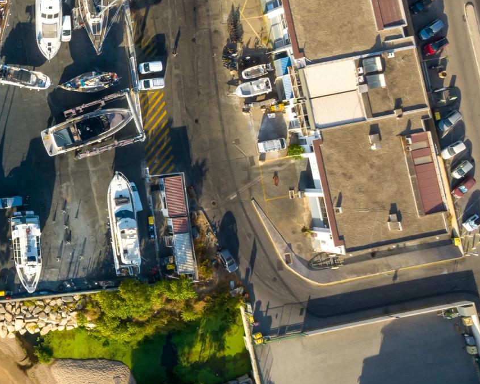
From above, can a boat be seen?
Yes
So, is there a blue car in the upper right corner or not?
Yes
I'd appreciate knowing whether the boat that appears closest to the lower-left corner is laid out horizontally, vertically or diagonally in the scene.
vertically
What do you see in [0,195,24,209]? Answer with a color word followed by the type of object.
blue vehicle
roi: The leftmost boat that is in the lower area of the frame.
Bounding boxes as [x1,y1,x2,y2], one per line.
[11,211,44,295]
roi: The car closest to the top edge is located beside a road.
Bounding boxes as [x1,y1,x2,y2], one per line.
[408,0,433,15]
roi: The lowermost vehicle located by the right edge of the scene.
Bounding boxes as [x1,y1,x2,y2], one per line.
[461,214,480,231]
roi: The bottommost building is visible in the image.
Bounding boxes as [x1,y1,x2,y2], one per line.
[168,232,194,274]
